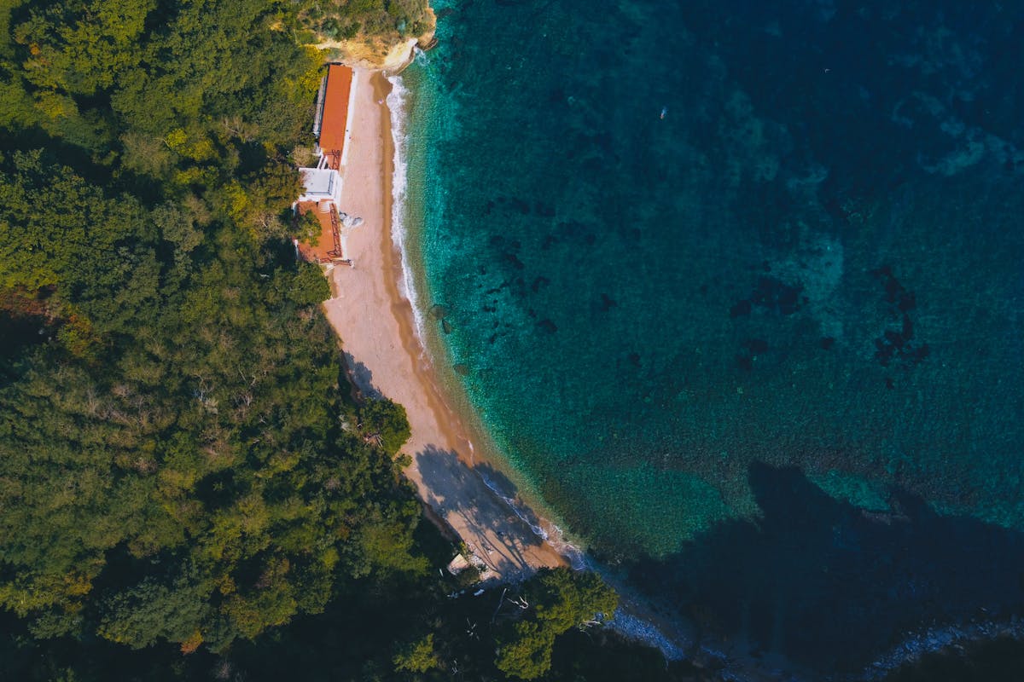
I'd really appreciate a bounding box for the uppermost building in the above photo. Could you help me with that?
[319,64,353,148]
